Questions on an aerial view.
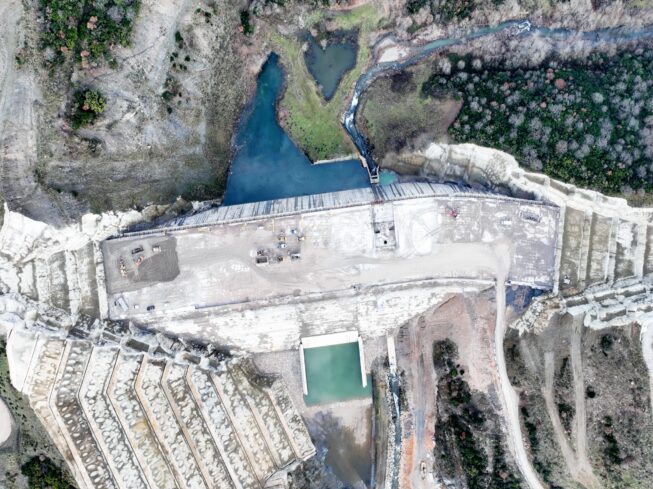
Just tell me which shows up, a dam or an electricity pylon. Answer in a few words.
dam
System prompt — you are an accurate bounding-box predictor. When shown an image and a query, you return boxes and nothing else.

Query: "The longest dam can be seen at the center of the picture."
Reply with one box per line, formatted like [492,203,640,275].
[103,182,560,354]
